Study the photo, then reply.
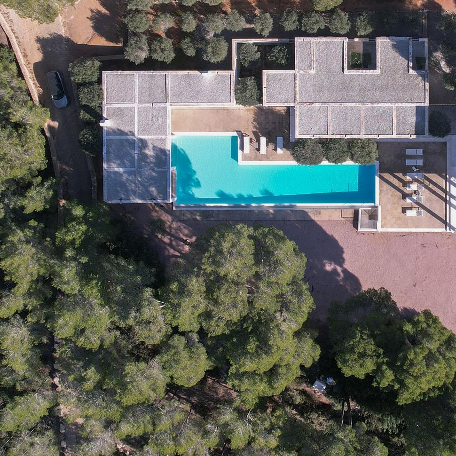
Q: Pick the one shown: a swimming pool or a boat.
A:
swimming pool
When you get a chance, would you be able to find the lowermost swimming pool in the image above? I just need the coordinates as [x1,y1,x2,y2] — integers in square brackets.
[170,132,378,210]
